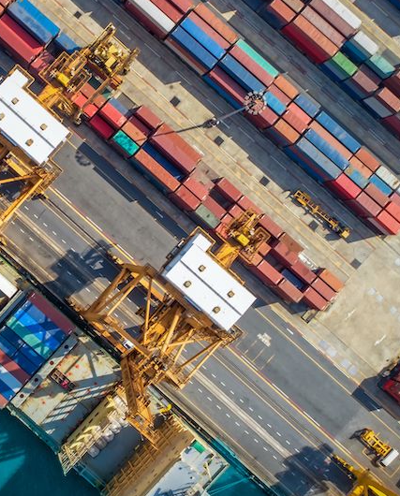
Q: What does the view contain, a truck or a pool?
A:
truck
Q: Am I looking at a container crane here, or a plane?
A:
container crane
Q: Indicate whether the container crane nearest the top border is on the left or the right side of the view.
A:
left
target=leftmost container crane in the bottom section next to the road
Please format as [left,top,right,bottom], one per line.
[64,211,276,454]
